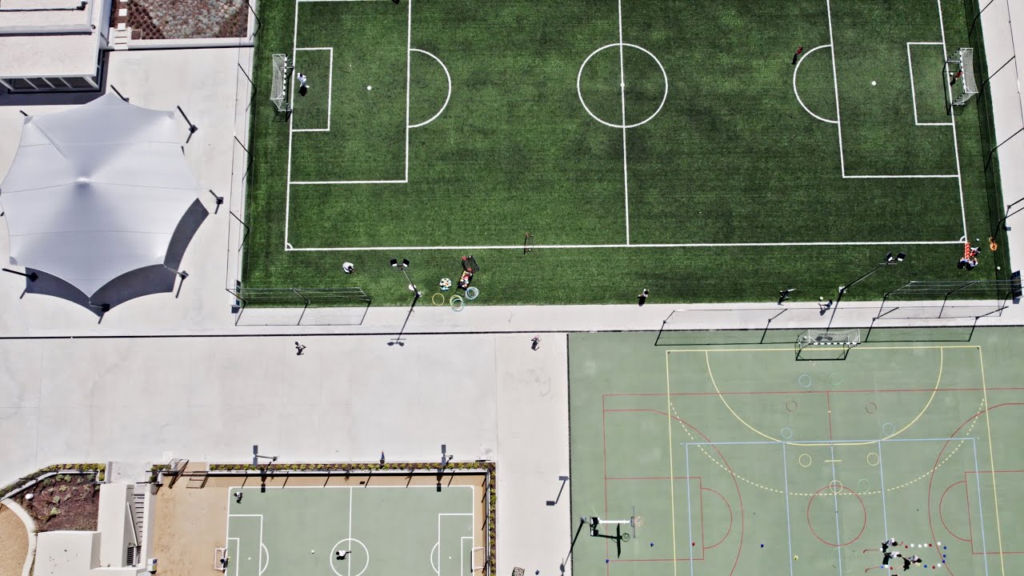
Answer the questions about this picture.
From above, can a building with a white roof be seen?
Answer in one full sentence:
Yes, a building with a white roof is visible in the scene.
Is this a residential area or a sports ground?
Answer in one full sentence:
What you see here is a sports ground.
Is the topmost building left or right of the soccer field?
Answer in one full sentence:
The topmost building appears to the left of the soccer field in this view.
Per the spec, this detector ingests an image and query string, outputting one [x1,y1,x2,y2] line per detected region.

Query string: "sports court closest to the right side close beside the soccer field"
[569,327,1024,576]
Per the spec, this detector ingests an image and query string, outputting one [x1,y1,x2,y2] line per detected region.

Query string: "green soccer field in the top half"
[243,0,1010,309]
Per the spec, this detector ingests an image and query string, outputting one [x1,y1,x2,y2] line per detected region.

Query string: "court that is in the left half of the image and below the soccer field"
[225,484,474,576]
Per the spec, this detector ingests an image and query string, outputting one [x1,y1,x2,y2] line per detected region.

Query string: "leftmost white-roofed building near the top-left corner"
[0,0,109,94]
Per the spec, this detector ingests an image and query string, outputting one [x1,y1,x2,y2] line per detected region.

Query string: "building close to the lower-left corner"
[32,530,101,576]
